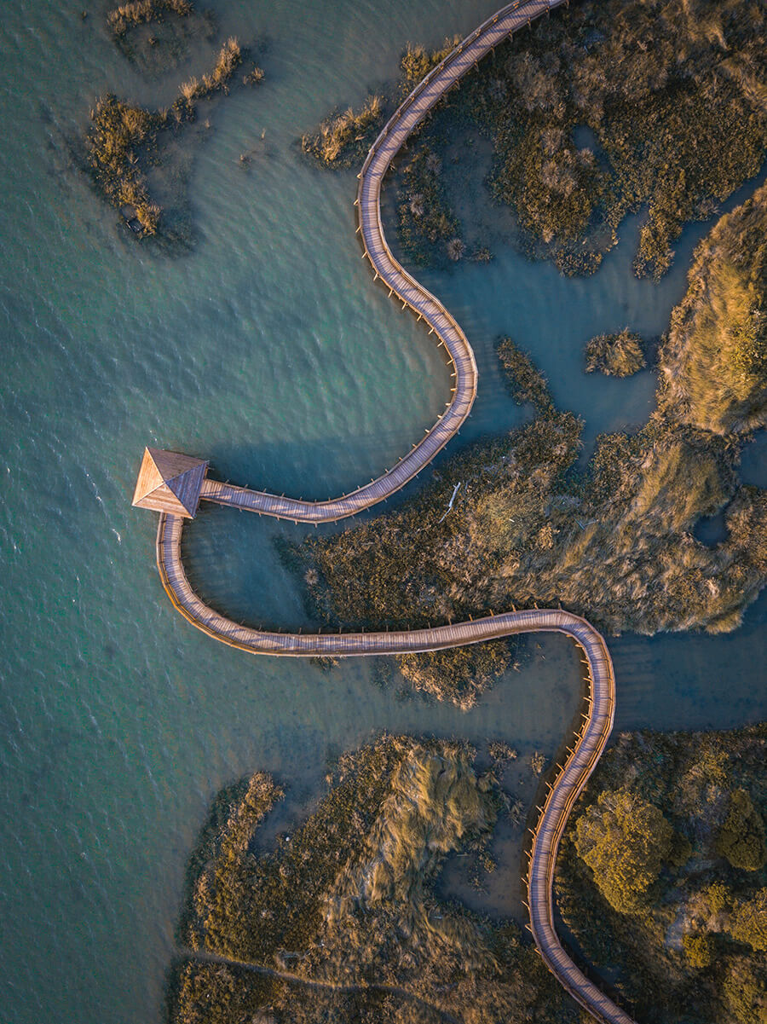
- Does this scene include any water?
Yes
